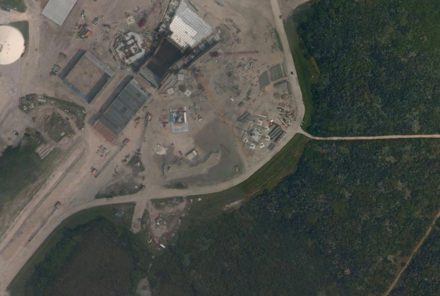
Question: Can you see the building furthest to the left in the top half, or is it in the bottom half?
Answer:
top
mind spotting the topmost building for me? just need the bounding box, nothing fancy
[63,50,115,103]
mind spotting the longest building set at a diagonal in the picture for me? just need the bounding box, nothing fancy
[94,78,153,141]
